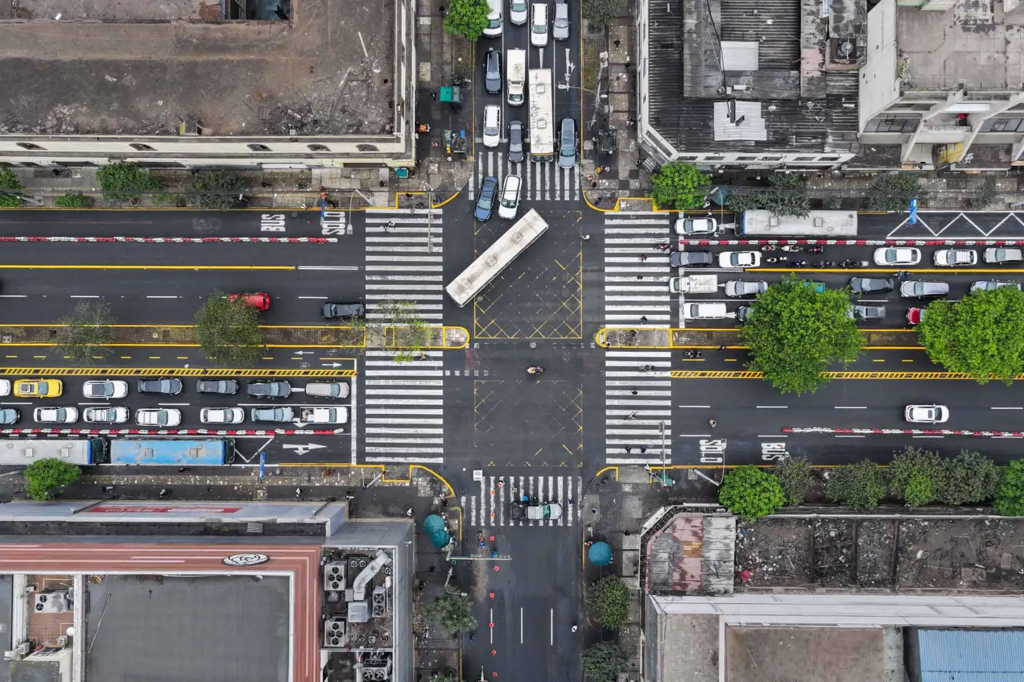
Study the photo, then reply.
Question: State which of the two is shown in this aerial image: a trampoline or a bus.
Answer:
bus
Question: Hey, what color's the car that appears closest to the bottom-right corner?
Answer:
white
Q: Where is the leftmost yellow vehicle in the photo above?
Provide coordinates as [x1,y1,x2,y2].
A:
[12,377,67,400]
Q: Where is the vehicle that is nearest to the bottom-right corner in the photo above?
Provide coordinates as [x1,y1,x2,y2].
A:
[902,403,947,424]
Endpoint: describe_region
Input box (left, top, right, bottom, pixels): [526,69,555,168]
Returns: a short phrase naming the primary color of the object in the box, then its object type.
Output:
white bus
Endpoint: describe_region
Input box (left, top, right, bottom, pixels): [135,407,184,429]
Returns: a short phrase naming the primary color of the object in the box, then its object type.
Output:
white car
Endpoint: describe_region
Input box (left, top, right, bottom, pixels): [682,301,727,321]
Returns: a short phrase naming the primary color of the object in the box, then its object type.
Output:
white vehicle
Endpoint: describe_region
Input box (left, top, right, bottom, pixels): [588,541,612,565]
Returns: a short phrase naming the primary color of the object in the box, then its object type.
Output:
blue umbrella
